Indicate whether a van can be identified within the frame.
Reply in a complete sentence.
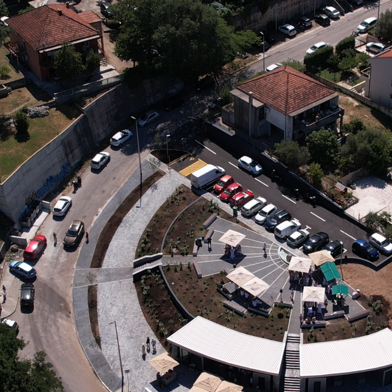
Yes, the photo shows a van.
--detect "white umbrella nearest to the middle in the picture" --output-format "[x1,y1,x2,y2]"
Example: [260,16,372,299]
[219,230,247,252]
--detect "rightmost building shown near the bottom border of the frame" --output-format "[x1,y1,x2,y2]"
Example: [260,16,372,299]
[298,328,392,392]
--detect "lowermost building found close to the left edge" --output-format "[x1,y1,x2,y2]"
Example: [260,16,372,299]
[4,1,101,81]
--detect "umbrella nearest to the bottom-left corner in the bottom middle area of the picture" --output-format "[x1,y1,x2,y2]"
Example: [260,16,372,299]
[149,352,179,378]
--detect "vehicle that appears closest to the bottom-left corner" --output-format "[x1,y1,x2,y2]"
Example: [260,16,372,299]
[0,314,22,330]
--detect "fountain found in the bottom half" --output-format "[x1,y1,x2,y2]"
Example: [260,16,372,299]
[277,244,302,264]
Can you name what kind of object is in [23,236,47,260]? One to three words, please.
car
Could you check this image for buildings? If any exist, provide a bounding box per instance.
[298,328,392,392]
[230,64,330,135]
[368,45,392,107]
[166,316,285,392]
[4,1,101,81]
